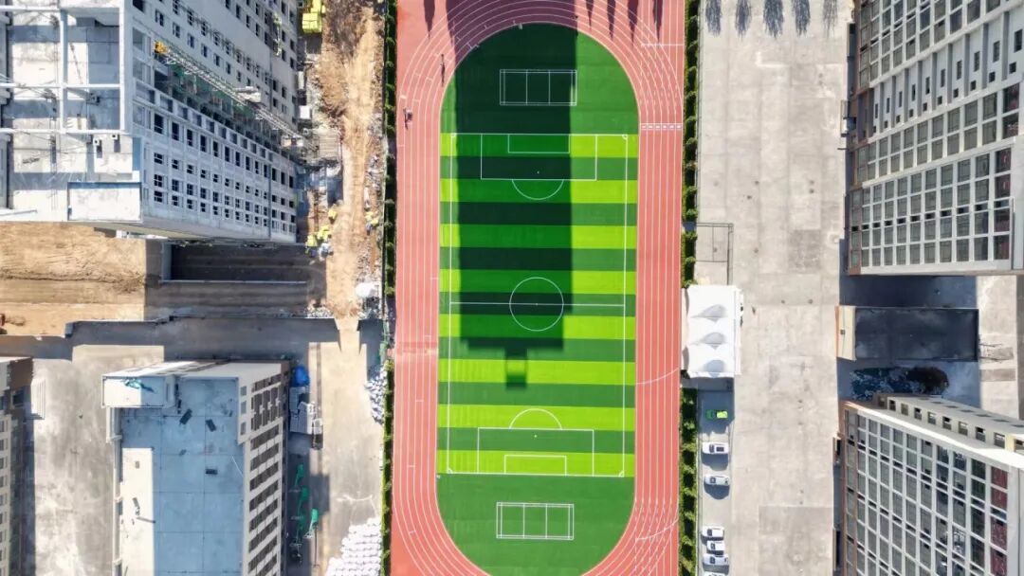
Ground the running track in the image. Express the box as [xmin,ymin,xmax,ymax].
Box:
[391,0,685,576]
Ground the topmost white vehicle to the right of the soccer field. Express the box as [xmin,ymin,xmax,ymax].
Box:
[701,443,730,457]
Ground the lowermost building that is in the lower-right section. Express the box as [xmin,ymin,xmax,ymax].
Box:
[831,392,1024,576]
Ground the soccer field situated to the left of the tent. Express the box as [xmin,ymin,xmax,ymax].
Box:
[437,23,638,576]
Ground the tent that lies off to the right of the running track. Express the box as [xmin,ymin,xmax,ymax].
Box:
[679,284,741,378]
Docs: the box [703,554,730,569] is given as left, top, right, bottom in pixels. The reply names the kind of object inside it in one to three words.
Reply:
car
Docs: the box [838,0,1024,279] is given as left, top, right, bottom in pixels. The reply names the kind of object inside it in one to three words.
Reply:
building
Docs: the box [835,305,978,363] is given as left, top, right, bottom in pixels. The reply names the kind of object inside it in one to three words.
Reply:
building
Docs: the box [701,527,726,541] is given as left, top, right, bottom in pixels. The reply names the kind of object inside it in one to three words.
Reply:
car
